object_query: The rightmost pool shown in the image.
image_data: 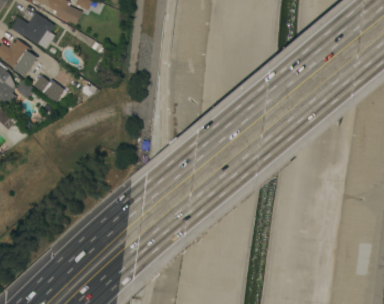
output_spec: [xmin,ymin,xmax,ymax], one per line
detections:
[64,48,80,66]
